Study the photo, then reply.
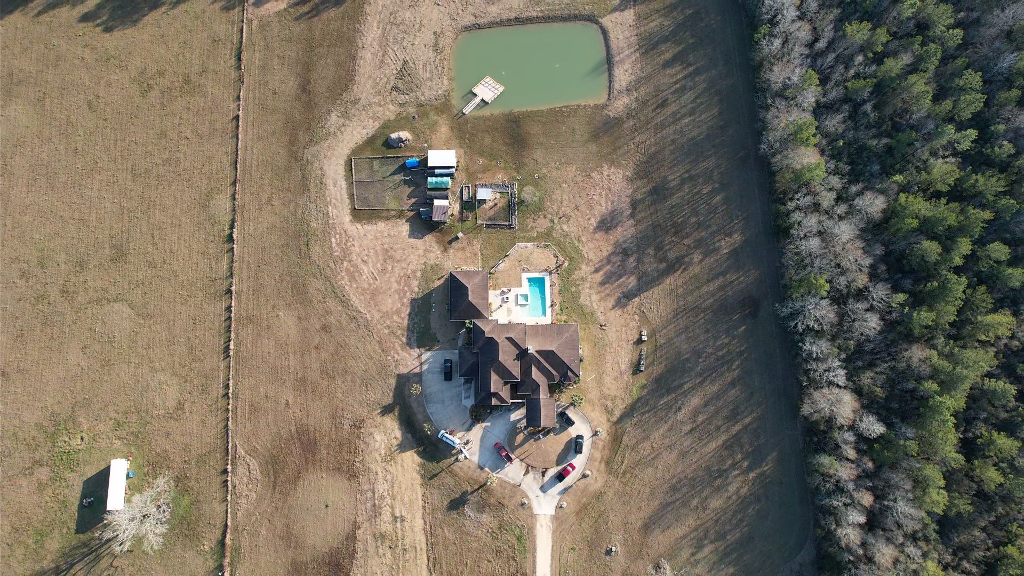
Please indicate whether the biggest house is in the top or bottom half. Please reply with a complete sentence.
The biggest house sits in the bottom half of the picture.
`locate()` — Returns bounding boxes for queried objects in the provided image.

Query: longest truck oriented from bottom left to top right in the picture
[555,462,577,483]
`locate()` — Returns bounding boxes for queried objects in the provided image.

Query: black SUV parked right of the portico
[557,409,576,428]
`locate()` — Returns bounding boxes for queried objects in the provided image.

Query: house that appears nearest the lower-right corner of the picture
[458,320,580,429]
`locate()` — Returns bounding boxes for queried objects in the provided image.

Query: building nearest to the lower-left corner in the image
[106,457,133,511]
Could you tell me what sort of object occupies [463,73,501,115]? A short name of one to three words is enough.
pier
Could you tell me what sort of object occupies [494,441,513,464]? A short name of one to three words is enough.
vehicle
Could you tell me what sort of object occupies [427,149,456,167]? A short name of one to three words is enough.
shed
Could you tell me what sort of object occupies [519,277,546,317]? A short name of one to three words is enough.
swimming pool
